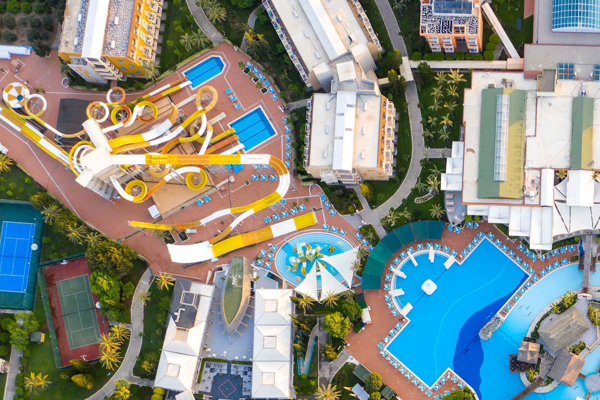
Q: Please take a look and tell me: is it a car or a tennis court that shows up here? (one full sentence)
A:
It is a tennis court that can be seen here.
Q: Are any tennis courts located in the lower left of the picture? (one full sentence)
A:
Yes, the scene does show a tennis court in the lower left of the picture.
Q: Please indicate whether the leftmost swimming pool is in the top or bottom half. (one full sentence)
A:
The leftmost swimming pool sits in the top half of the picture.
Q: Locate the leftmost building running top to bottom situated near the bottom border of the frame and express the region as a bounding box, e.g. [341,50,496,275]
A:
[154,279,221,390]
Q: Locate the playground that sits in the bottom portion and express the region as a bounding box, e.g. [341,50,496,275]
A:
[287,242,324,276]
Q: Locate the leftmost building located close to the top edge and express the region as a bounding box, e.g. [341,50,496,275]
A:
[58,0,162,88]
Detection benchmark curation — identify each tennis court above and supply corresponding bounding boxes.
[0,201,43,310]
[35,254,106,367]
